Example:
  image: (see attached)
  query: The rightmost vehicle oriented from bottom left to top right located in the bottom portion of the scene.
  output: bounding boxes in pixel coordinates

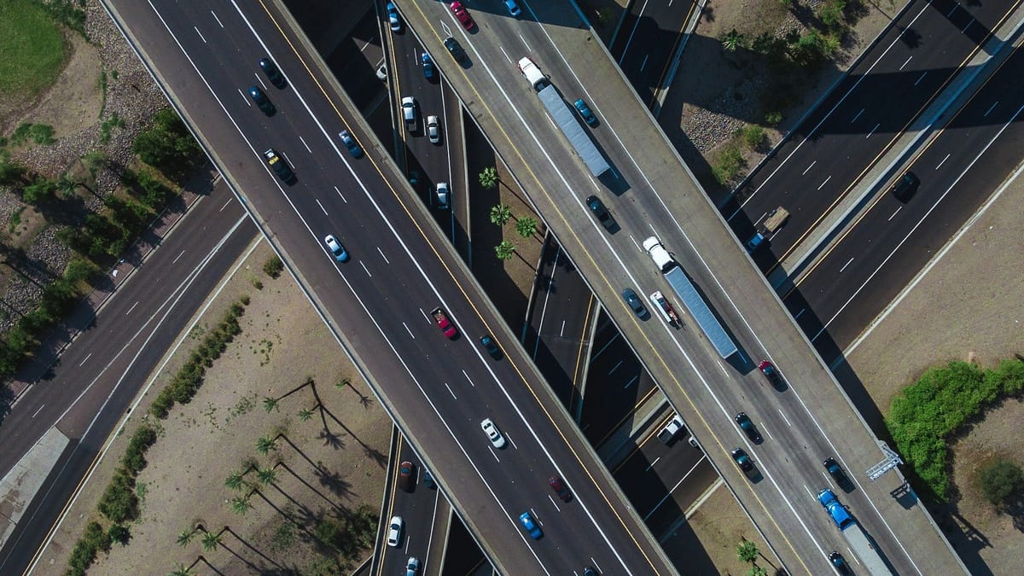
[655,413,684,444]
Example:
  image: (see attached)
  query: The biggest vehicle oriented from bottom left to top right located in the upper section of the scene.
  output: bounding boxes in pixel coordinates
[747,205,790,250]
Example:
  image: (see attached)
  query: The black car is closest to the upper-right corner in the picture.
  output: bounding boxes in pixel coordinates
[892,172,919,200]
